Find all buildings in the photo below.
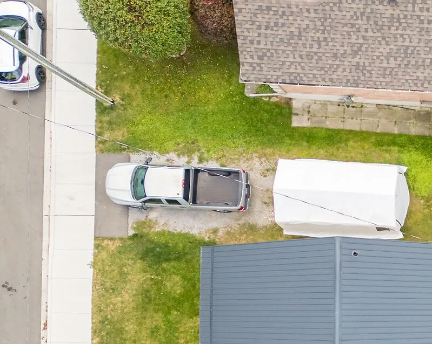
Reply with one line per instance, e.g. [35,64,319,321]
[237,0,432,104]
[198,235,432,344]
